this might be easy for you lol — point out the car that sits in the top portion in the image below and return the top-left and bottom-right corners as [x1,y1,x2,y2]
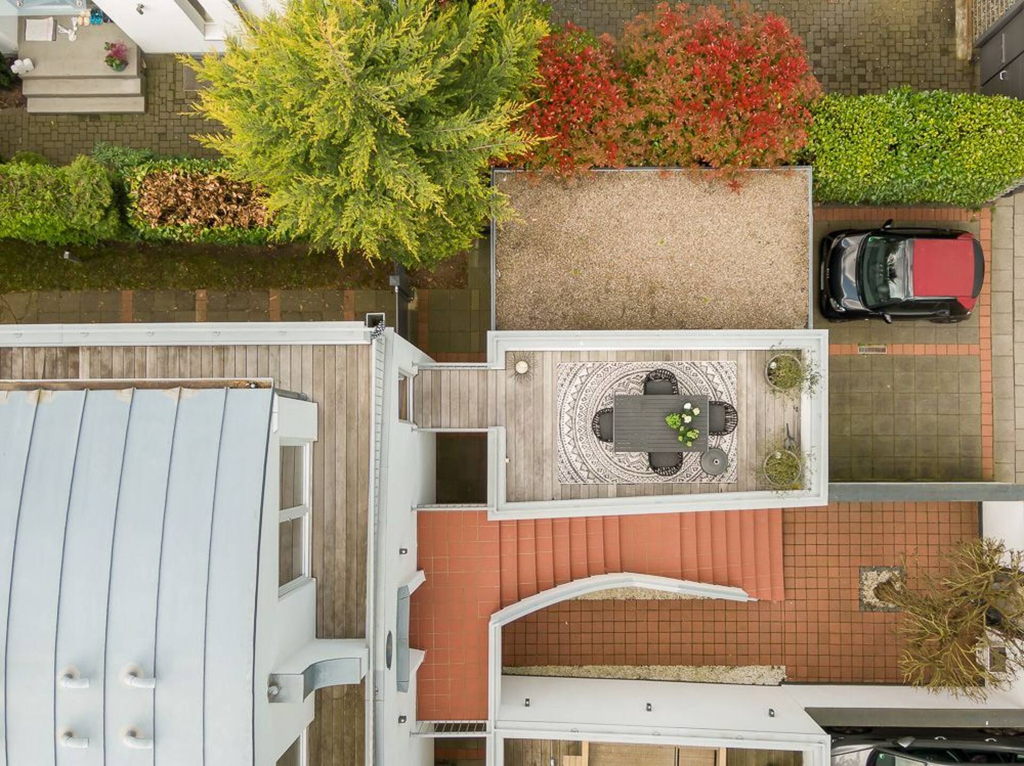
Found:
[819,215,984,329]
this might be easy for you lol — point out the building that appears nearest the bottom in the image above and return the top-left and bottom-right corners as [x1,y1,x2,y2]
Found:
[488,678,831,766]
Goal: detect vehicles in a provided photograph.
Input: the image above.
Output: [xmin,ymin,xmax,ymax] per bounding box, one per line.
[824,729,1024,766]
[819,215,984,329]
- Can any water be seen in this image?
No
